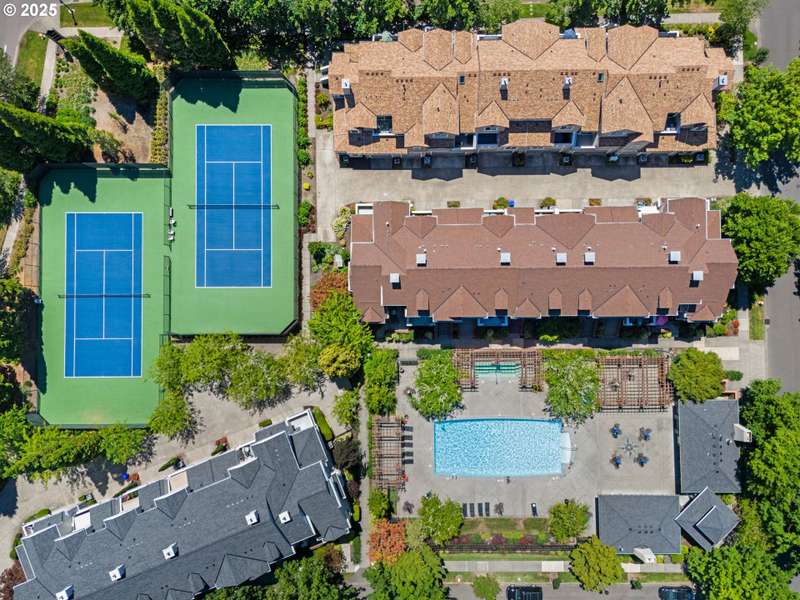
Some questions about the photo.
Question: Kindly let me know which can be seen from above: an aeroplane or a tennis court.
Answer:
tennis court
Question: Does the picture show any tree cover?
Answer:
Yes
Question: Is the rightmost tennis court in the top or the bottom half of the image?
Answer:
top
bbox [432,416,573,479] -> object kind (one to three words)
swimming pool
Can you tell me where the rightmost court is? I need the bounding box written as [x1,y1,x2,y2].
[171,80,293,334]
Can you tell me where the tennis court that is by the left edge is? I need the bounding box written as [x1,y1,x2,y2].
[40,170,171,424]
